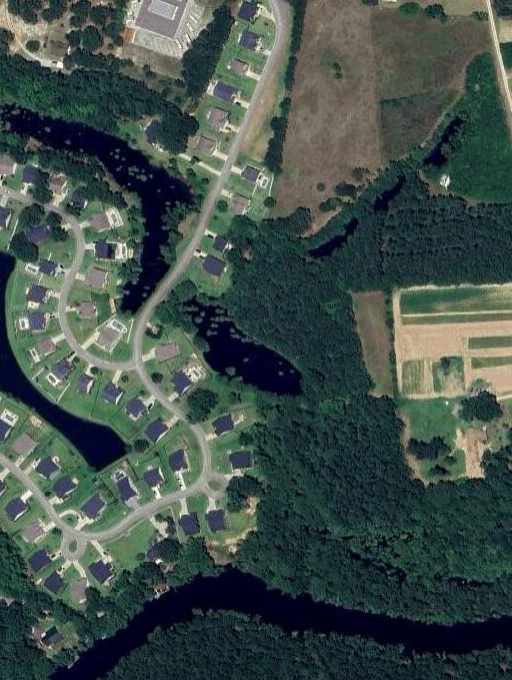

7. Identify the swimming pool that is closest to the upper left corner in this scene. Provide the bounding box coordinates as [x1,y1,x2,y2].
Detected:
[107,207,121,225]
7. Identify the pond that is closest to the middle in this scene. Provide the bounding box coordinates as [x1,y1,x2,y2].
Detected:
[182,300,302,398]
